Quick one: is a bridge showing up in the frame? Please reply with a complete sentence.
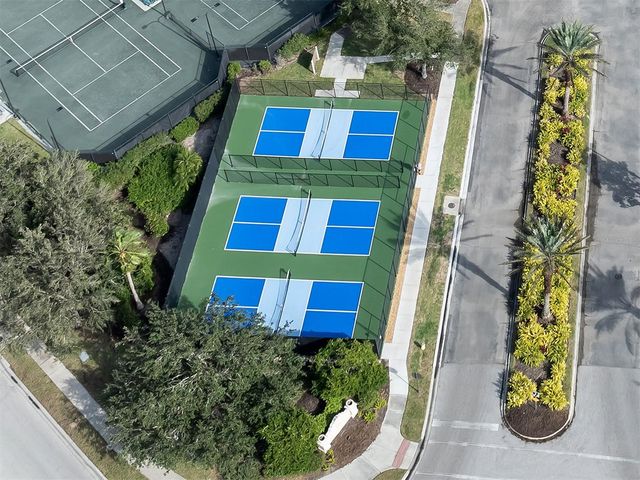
No, no bridge can be seen from above.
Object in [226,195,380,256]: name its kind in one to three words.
sports court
